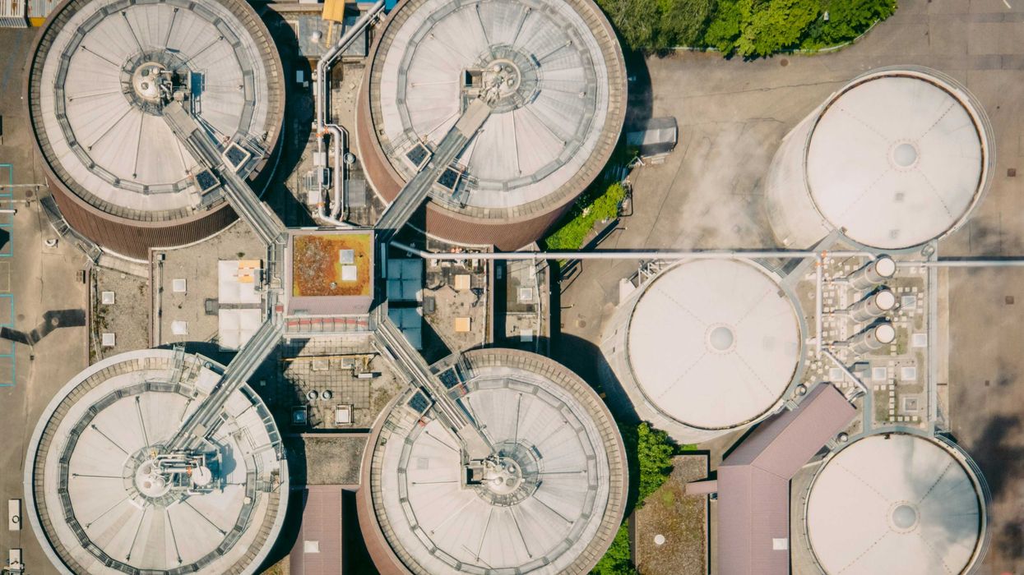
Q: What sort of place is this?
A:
industrial area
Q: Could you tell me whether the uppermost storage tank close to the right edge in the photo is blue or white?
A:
white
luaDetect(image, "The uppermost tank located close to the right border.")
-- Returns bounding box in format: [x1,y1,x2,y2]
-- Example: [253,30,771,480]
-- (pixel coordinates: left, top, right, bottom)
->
[765,58,1001,257]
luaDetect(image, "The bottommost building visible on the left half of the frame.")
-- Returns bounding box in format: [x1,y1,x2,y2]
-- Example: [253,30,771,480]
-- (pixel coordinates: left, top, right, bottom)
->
[289,487,342,575]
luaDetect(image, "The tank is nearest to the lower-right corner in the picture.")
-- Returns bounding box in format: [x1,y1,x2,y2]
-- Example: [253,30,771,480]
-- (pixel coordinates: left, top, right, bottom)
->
[788,428,997,575]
